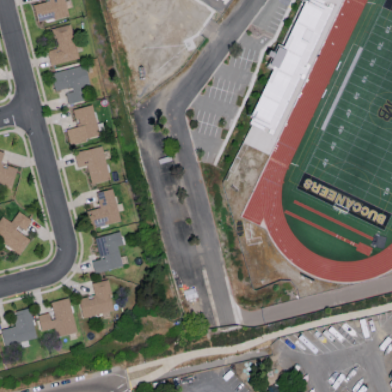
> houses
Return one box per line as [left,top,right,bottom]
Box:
[37,298,77,340]
[0,211,32,254]
[66,104,104,144]
[80,279,115,319]
[0,308,36,348]
[87,189,124,229]
[48,24,82,65]
[92,234,128,272]
[0,150,18,188]
[74,147,112,186]
[34,0,70,22]
[54,64,90,104]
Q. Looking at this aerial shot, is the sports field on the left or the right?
right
